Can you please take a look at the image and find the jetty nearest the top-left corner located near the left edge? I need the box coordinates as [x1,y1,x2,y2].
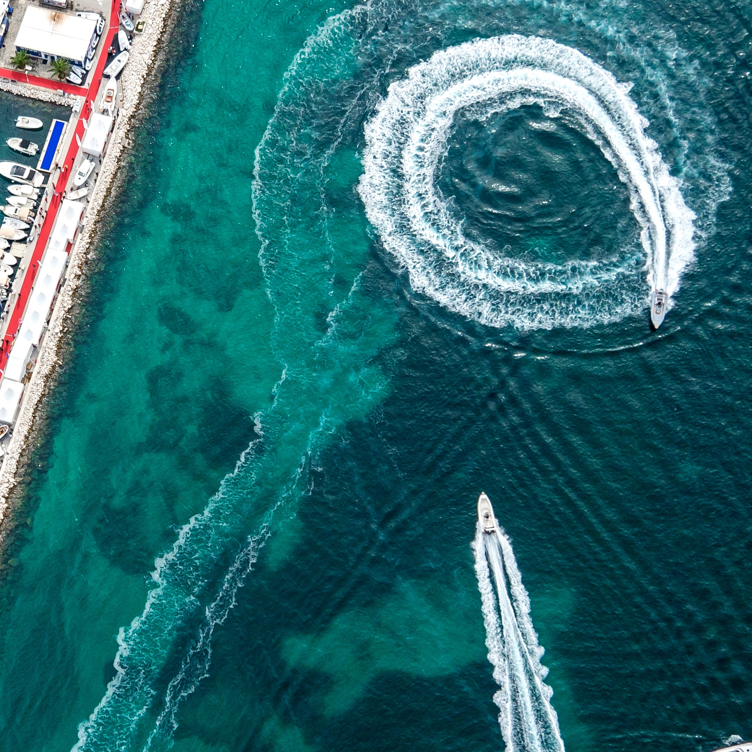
[36,118,67,173]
